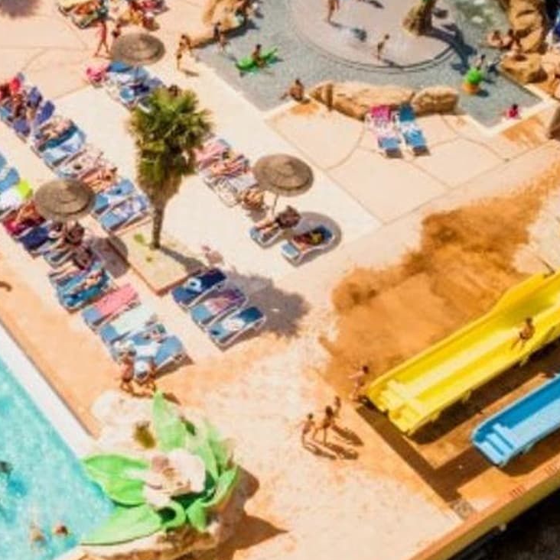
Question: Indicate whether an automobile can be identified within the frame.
No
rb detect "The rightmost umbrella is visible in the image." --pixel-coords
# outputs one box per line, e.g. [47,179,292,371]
[250,159,314,218]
